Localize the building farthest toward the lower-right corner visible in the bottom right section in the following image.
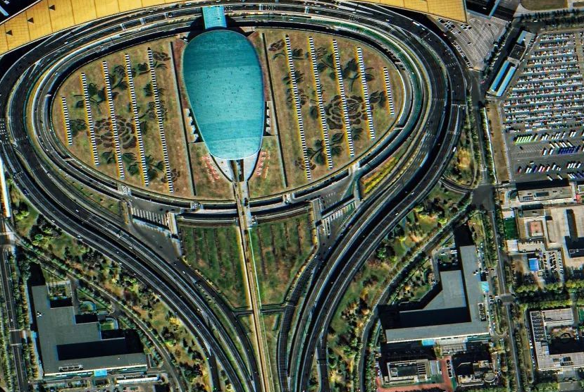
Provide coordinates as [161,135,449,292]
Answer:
[530,308,584,389]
